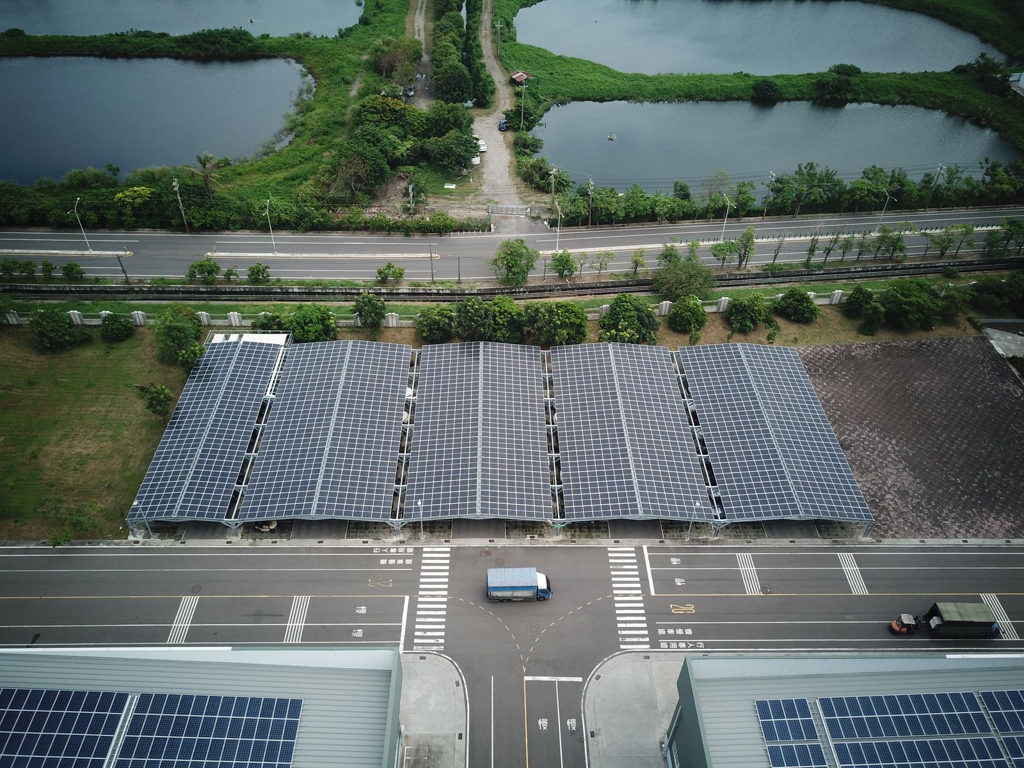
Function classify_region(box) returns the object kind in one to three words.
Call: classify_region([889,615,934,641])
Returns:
work vehicle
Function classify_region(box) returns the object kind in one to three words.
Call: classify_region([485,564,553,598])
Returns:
truck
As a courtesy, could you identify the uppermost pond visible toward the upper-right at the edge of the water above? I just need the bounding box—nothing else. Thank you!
[513,0,987,70]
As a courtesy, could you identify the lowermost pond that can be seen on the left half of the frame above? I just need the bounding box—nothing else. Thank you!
[0,55,317,189]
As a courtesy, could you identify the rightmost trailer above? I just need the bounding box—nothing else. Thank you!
[922,602,998,636]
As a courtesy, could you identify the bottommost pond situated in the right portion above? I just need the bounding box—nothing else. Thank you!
[537,100,1024,200]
